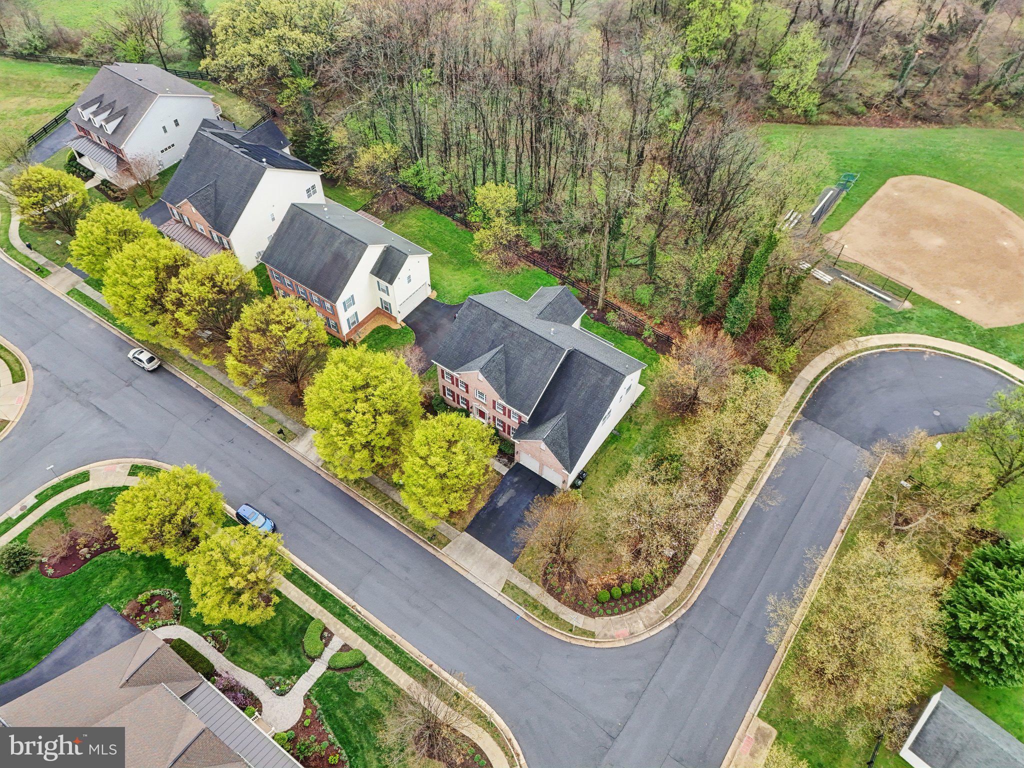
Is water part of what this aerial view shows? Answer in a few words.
No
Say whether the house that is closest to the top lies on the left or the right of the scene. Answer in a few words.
left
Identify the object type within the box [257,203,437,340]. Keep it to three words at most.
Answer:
house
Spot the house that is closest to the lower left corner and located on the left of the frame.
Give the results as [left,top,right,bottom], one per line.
[0,627,306,768]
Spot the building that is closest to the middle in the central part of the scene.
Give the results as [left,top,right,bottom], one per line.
[430,285,648,493]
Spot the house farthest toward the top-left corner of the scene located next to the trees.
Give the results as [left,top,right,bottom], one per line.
[64,59,242,191]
